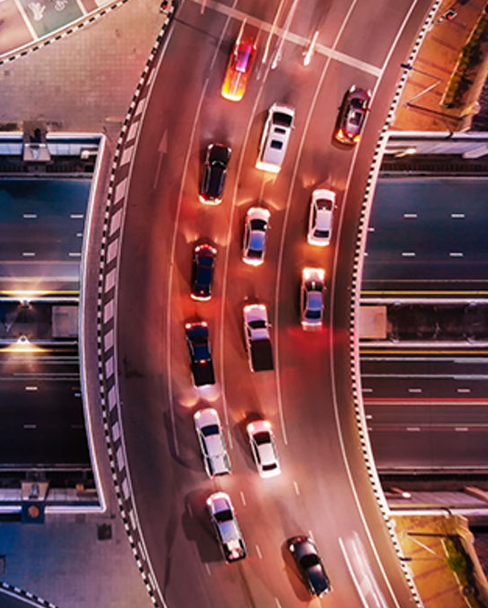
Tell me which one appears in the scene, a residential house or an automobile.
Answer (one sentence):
Visible in the photo is an automobile.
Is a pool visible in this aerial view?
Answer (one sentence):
No, there's no pool here.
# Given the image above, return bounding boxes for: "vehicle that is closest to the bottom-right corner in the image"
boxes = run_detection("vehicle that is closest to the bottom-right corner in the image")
[341,547,388,608]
